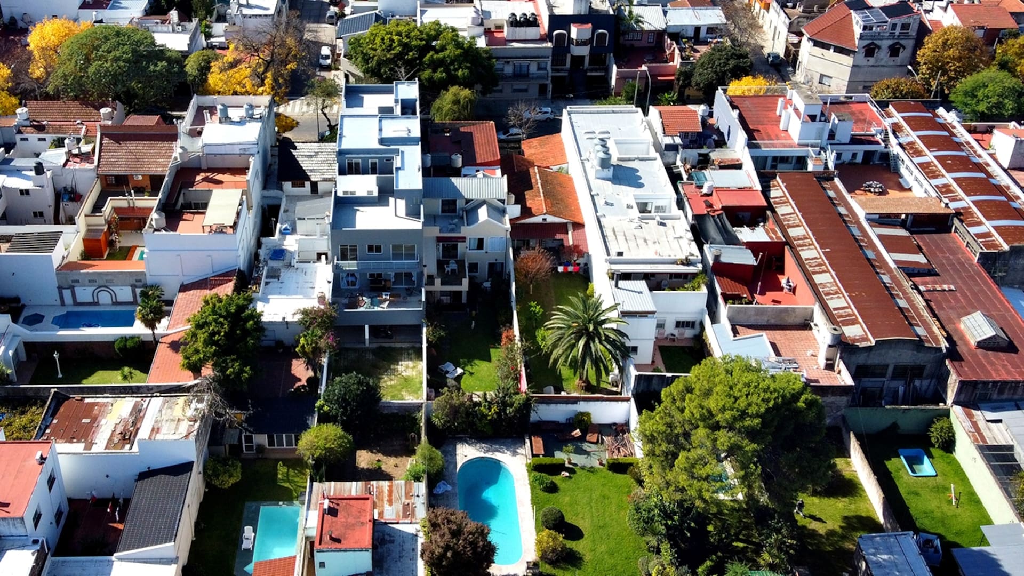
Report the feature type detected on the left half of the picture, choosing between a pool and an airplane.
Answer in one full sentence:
The one visible on the left half of the picture is a pool.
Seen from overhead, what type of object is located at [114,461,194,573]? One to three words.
shed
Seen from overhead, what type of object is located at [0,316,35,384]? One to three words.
house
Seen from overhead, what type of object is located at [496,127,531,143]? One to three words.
car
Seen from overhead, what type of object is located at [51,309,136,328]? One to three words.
swimming pool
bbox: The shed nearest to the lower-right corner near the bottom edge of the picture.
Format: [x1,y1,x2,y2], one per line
[852,531,932,576]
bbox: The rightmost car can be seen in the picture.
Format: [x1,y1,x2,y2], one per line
[768,48,783,65]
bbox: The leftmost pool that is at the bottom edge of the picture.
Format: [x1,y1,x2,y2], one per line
[244,505,300,576]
